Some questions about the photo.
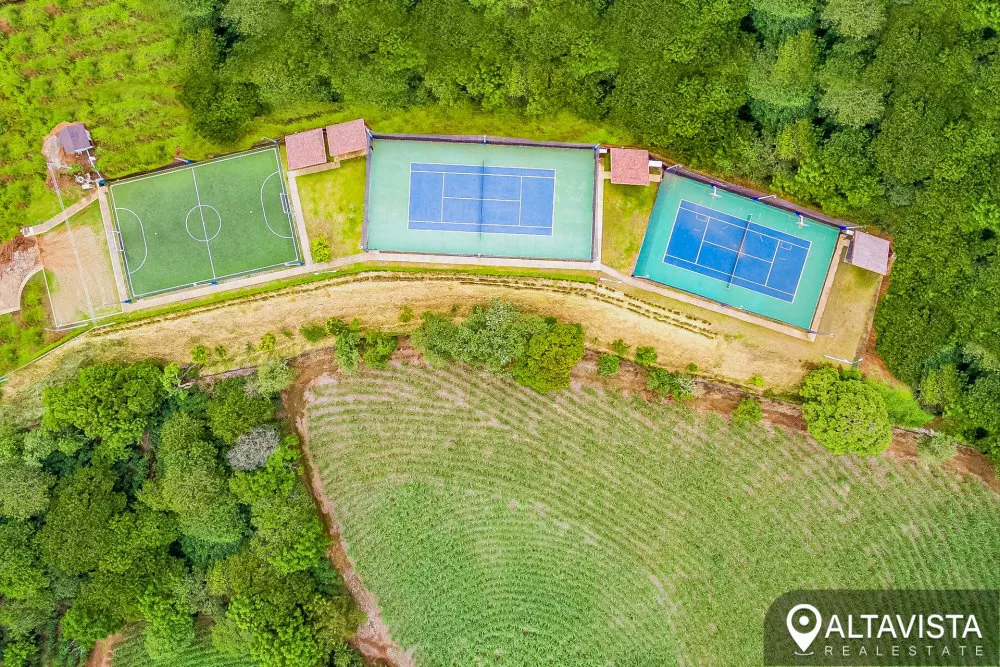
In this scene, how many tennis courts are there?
2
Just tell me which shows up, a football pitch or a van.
football pitch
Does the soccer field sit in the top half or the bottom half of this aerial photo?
top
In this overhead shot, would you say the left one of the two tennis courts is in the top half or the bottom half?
top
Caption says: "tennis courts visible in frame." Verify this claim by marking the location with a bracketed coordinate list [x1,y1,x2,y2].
[634,173,839,330]
[367,140,595,261]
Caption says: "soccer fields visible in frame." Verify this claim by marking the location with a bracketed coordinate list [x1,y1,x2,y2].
[108,146,303,302]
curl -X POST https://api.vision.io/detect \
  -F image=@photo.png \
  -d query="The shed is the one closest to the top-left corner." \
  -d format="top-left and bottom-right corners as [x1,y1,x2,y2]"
[60,124,97,153]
